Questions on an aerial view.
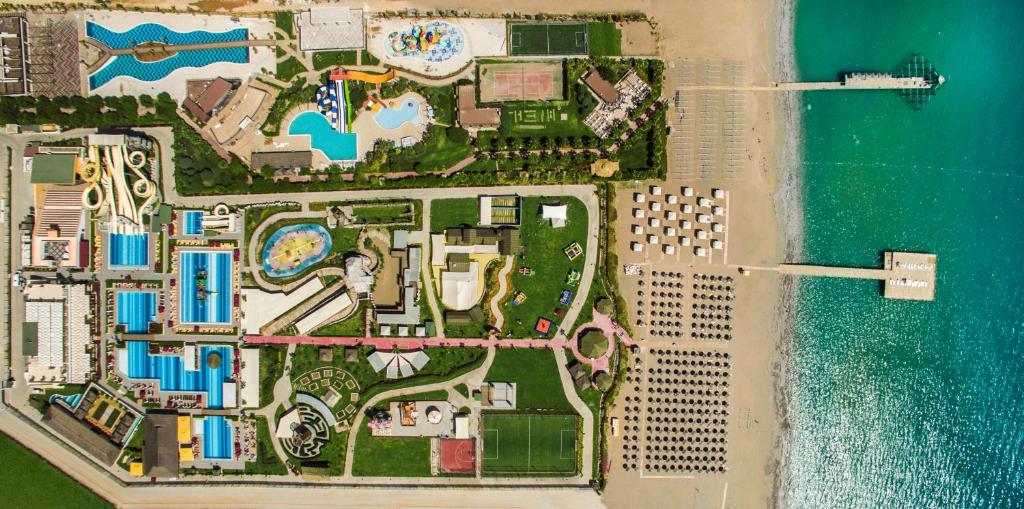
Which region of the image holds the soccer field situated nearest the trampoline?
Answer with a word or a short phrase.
bottom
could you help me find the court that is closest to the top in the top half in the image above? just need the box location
[480,61,564,101]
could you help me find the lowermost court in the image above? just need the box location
[440,439,476,475]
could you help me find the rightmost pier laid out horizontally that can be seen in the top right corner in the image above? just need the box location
[762,73,931,91]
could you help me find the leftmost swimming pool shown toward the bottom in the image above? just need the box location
[49,393,83,410]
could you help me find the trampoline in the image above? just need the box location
[534,317,552,335]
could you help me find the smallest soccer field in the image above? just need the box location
[508,20,589,56]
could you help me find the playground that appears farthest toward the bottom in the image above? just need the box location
[400,401,418,426]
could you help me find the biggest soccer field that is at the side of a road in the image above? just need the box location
[480,413,580,477]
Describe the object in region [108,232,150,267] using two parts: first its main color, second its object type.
blue swimming pool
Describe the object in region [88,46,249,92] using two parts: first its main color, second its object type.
blue swimming pool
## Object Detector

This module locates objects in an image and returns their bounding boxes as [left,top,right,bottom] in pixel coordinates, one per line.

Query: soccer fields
[480,413,580,477]
[508,20,589,56]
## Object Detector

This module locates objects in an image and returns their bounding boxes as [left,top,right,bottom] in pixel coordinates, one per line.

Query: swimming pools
[121,419,140,445]
[184,210,206,237]
[372,96,422,131]
[262,223,333,278]
[178,250,234,325]
[88,46,249,92]
[117,340,232,409]
[84,18,249,50]
[49,393,83,410]
[286,109,359,162]
[193,414,233,460]
[108,232,150,267]
[116,290,158,334]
